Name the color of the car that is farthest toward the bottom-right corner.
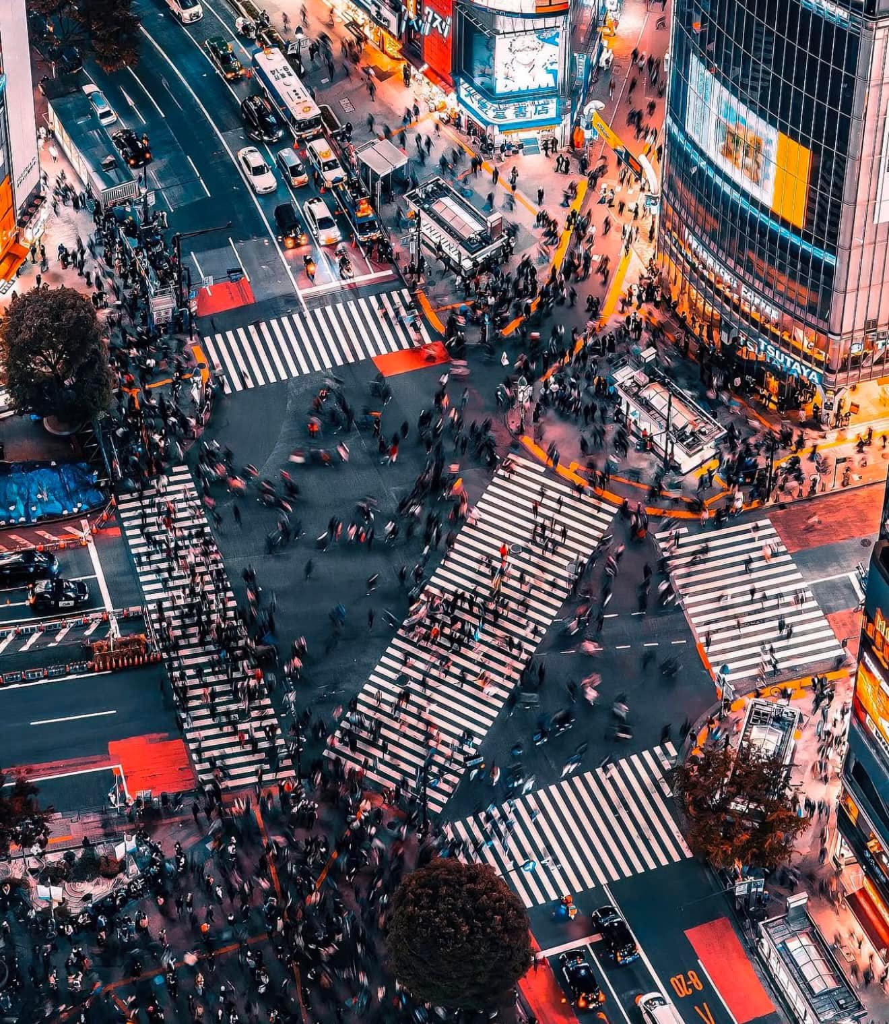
white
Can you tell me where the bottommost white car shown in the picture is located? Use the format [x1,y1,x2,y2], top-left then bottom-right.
[632,981,682,1024]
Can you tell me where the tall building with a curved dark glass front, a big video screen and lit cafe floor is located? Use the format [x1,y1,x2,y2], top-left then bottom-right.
[658,0,889,414]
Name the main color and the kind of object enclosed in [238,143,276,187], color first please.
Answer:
white car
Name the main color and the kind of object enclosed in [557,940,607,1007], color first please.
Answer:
black car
